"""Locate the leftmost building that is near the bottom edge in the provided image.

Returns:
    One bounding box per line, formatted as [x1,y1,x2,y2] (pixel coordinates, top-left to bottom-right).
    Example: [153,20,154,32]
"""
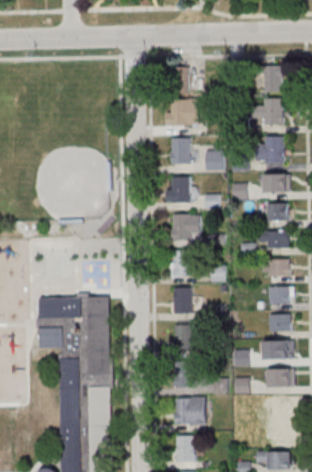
[38,292,114,472]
